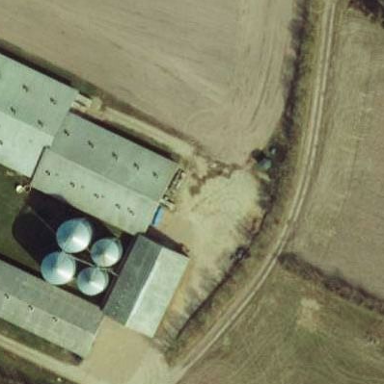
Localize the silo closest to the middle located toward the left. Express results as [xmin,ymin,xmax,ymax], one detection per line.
[90,237,121,268]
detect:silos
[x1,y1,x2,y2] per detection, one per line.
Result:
[77,266,108,298]
[90,237,121,268]
[39,251,77,287]
[55,218,91,254]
